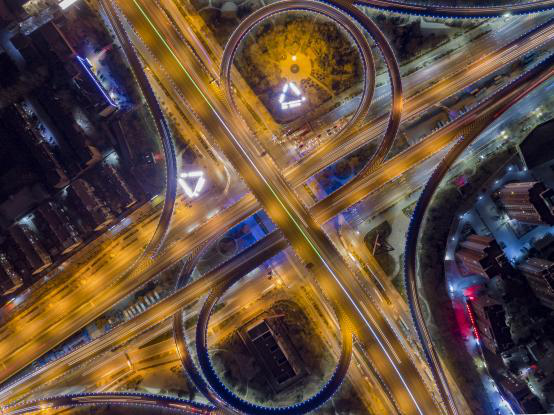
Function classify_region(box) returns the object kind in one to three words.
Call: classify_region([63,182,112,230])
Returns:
building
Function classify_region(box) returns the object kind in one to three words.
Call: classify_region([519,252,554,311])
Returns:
building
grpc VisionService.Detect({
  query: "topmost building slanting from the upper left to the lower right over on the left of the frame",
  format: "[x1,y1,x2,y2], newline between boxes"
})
[30,15,75,58]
